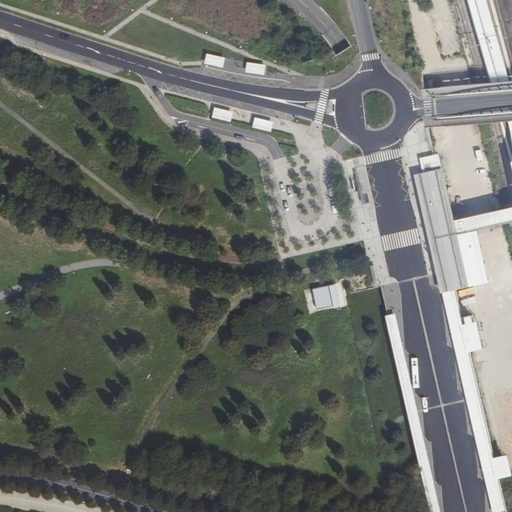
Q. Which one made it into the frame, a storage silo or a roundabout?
roundabout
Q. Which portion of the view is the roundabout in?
top right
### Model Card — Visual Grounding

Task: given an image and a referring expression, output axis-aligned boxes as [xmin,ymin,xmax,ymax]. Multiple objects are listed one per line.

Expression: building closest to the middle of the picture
[304,280,348,314]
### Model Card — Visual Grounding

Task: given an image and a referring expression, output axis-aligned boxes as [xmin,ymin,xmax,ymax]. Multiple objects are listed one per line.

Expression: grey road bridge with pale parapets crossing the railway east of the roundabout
[424,81,512,128]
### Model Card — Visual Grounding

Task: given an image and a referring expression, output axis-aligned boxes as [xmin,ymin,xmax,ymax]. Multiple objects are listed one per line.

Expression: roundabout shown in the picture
[324,62,424,165]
